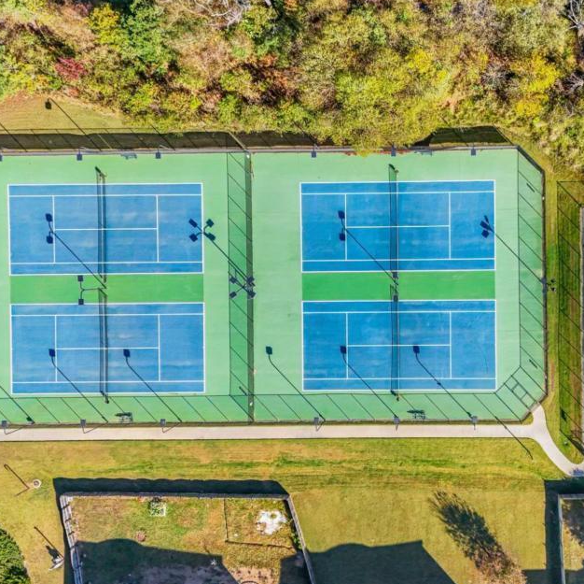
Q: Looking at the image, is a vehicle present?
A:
No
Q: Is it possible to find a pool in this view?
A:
No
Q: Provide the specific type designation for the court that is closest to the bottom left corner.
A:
tennis court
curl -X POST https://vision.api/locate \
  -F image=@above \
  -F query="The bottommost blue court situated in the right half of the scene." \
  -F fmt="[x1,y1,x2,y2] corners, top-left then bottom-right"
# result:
[302,300,498,392]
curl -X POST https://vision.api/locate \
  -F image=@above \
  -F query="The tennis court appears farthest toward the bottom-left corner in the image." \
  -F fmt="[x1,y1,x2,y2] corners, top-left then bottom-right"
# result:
[10,303,206,395]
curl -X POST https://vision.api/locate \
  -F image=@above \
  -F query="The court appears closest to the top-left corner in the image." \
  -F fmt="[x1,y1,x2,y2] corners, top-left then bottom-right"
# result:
[9,184,203,275]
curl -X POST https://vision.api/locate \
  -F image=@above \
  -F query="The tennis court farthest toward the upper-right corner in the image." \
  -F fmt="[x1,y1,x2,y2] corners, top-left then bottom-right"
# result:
[301,180,495,272]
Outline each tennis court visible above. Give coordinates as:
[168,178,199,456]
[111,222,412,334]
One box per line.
[10,303,206,395]
[301,180,495,272]
[302,300,498,392]
[9,184,203,275]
